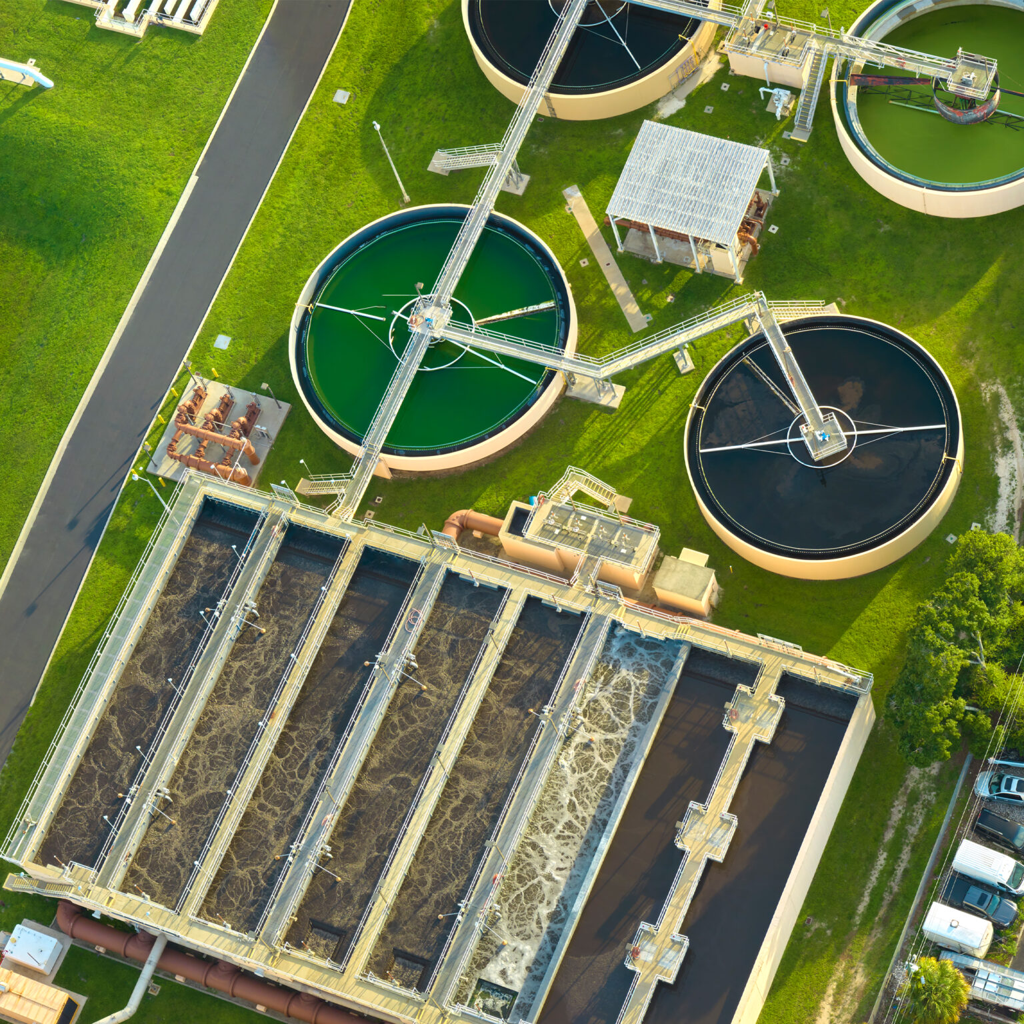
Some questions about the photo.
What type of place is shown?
industrial area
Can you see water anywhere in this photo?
Yes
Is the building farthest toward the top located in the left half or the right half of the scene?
right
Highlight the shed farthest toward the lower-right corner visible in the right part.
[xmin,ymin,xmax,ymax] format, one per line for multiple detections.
[652,547,718,616]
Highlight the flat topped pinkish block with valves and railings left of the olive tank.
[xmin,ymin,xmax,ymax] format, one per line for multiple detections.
[724,11,841,90]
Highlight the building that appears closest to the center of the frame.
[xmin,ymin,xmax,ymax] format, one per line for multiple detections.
[498,492,660,596]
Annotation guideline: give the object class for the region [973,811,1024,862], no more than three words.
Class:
truck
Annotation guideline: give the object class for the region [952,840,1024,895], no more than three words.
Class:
van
